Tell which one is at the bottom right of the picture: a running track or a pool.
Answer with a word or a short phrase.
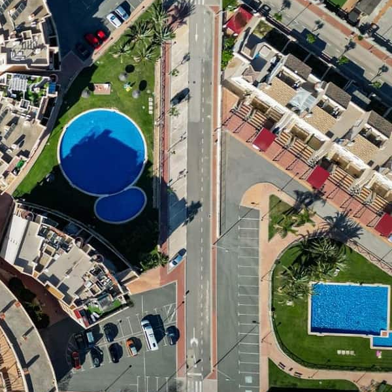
pool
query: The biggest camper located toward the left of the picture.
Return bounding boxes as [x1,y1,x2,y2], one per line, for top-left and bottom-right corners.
[141,321,159,348]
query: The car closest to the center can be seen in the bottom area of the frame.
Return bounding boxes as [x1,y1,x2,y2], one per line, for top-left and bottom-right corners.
[169,249,185,264]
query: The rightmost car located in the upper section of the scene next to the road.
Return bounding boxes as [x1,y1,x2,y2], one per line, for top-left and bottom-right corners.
[172,89,188,103]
